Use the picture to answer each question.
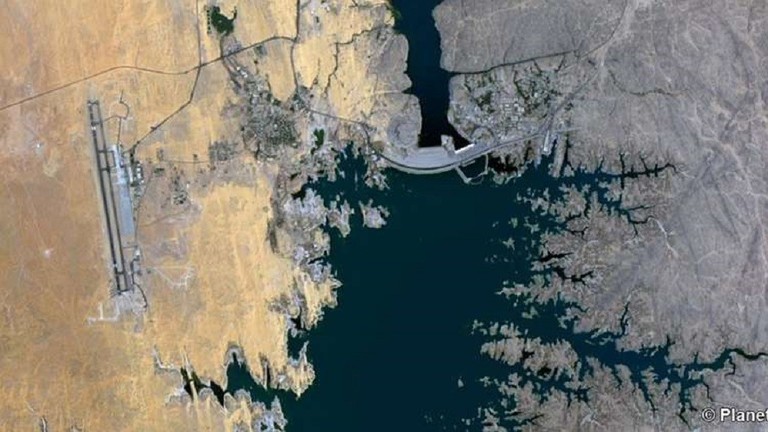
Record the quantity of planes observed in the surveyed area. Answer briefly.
0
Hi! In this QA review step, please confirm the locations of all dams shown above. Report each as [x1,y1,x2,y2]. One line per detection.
[365,143,490,175]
